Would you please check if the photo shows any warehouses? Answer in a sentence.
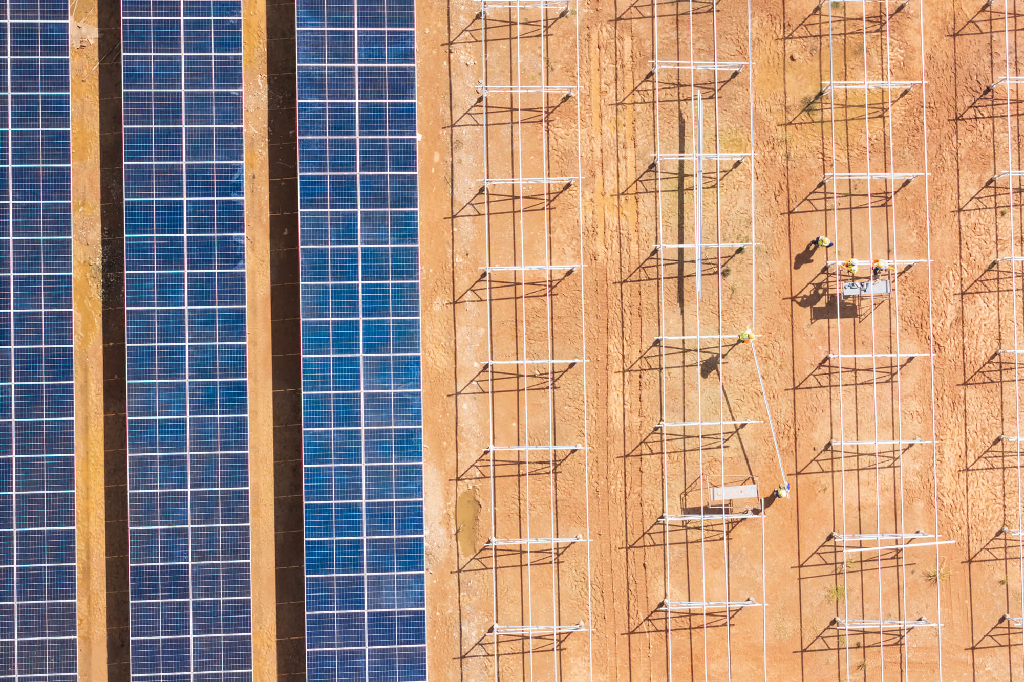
No, I find no warehouse anywhere in the image.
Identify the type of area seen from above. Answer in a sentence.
The area seen from above is a solar farm.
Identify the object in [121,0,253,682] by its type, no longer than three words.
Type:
solar array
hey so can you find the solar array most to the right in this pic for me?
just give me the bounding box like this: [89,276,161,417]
[295,0,427,682]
